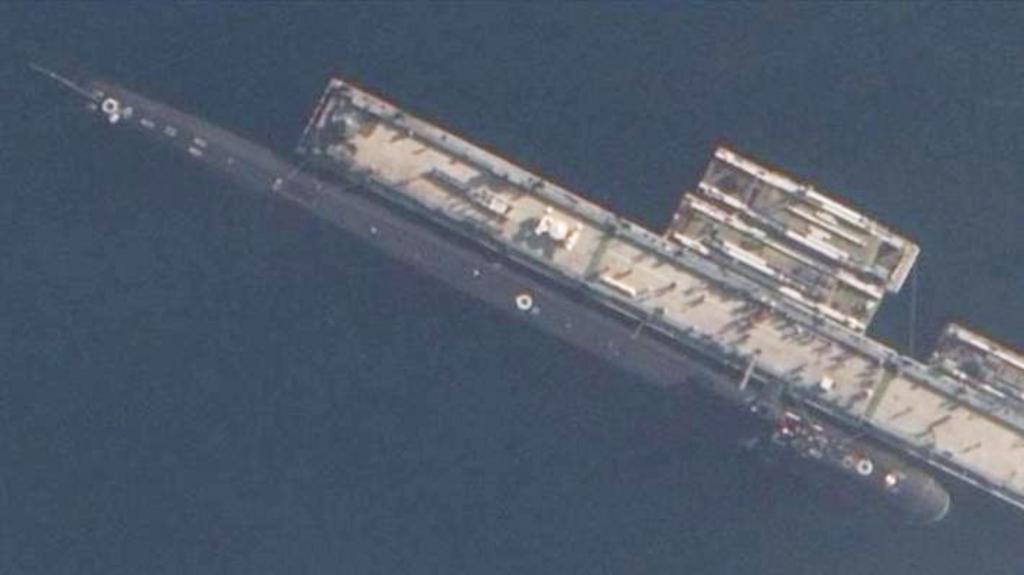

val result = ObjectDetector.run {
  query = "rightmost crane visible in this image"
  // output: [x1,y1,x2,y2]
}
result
[529,207,581,255]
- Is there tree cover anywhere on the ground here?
No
